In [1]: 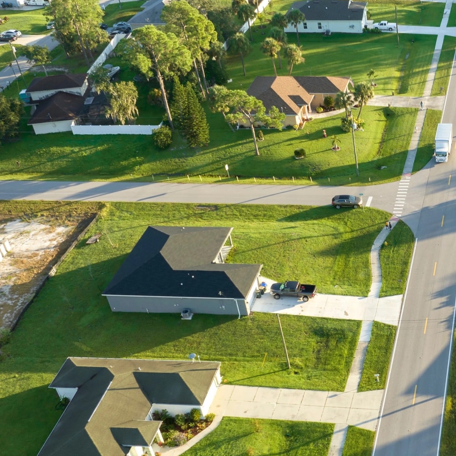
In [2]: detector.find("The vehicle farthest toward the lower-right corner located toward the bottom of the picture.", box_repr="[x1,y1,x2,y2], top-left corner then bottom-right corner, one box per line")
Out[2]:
[268,279,316,300]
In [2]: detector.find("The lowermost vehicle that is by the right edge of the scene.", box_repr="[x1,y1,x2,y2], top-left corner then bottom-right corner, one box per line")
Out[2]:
[433,125,452,160]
